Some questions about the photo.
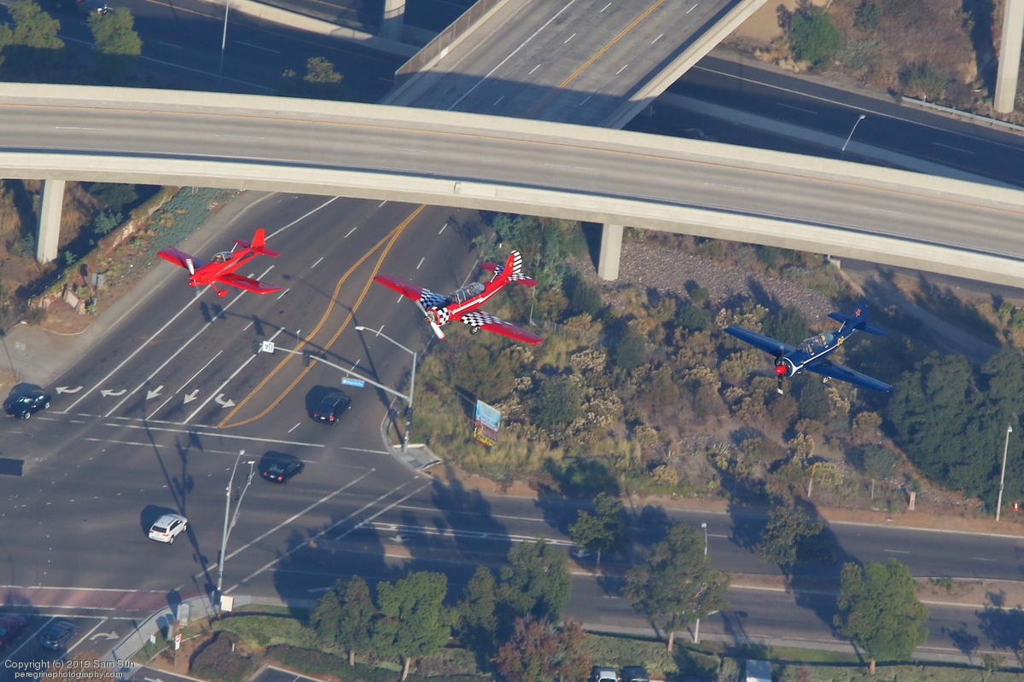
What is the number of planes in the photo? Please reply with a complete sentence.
I count 3 planes.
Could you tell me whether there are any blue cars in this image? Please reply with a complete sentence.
Yes, there is a blue car in the image.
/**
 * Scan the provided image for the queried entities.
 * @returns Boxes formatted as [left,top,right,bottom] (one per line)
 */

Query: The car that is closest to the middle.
[312,389,352,418]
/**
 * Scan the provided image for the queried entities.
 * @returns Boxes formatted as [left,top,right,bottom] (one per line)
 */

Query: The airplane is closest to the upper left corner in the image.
[157,227,282,302]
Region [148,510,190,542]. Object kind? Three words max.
car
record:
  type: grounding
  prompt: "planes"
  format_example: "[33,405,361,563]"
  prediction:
[373,246,548,344]
[157,227,282,302]
[724,297,898,393]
